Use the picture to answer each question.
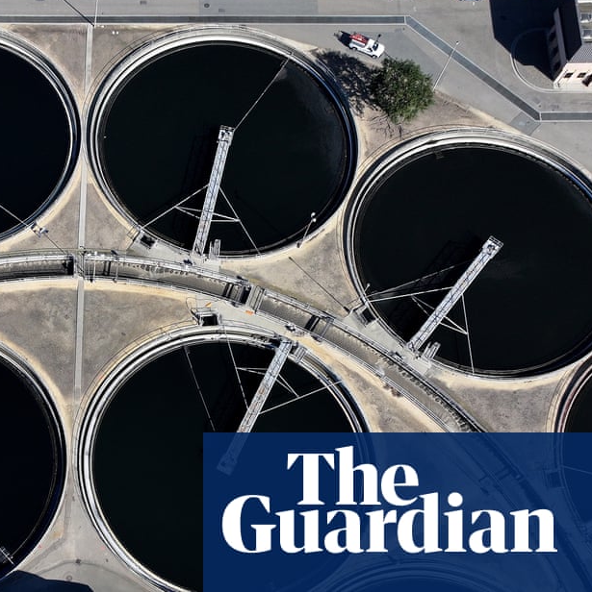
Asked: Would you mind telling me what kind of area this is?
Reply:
industrial area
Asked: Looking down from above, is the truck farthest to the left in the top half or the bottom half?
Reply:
top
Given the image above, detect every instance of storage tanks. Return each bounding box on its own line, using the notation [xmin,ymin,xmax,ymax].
[85,20,362,262]
[548,354,592,554]
[0,24,85,241]
[339,123,592,385]
[0,335,72,587]
[73,318,386,592]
